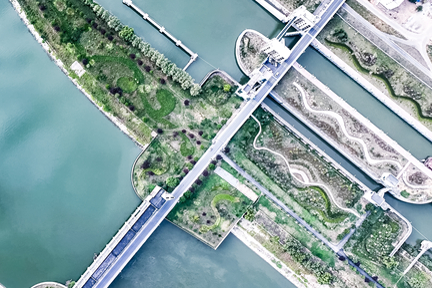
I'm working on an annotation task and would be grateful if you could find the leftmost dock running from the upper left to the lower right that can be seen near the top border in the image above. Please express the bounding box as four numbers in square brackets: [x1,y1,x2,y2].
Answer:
[122,0,198,71]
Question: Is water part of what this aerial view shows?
Yes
